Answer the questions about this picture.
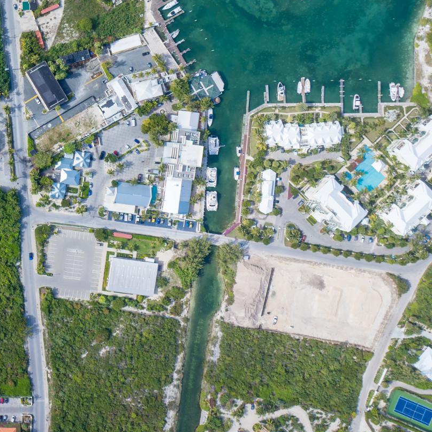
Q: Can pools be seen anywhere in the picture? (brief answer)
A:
Yes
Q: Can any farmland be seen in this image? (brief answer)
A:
No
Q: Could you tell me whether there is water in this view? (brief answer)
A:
Yes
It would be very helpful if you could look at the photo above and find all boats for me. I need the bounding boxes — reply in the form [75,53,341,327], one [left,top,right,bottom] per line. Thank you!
[162,0,179,10]
[207,136,221,155]
[235,145,242,157]
[276,82,283,101]
[397,84,403,97]
[296,82,301,94]
[304,78,310,93]
[205,191,217,210]
[207,108,212,127]
[233,166,238,180]
[388,82,397,101]
[351,93,360,111]
[167,6,182,17]
[206,167,217,187]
